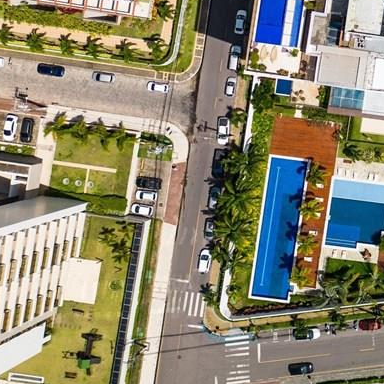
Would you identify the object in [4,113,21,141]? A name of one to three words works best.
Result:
car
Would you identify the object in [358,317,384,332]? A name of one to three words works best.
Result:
car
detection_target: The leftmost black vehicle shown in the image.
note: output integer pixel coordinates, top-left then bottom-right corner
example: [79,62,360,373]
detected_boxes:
[21,117,38,142]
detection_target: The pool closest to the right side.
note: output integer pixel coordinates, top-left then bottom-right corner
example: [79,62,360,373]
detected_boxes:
[322,177,384,249]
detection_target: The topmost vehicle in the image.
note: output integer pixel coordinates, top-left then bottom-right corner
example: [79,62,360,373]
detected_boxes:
[234,9,249,36]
